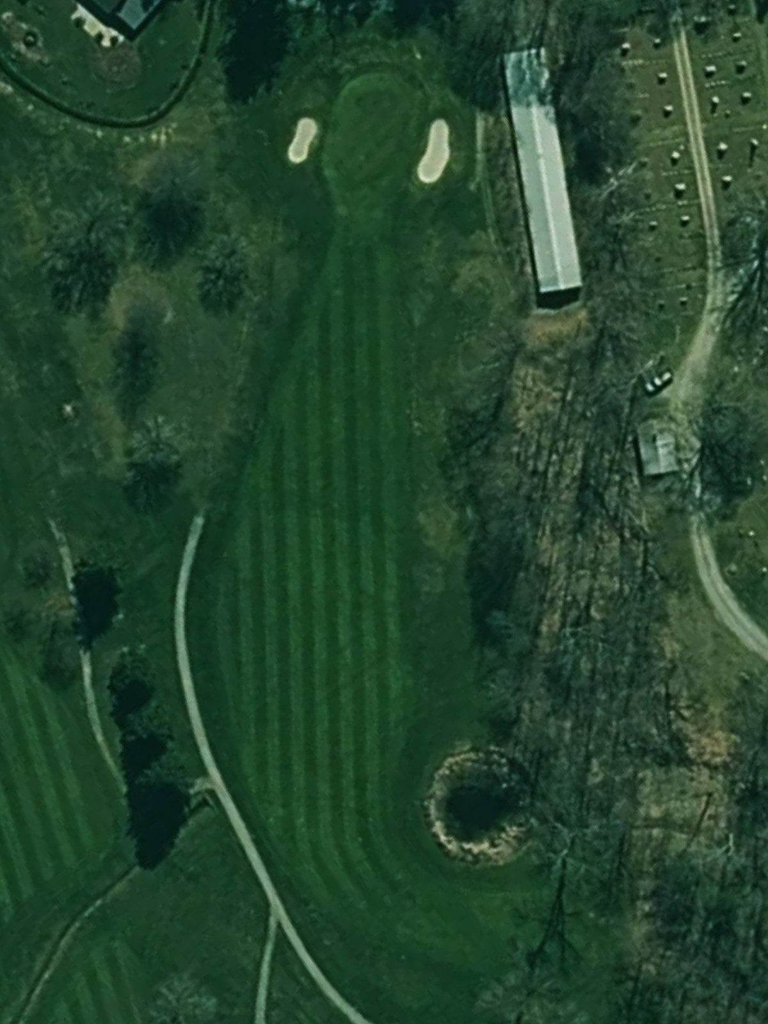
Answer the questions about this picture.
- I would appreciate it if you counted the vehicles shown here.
1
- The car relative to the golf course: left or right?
to the right of it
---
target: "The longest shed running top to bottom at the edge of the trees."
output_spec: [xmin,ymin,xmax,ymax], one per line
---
[504,47,583,294]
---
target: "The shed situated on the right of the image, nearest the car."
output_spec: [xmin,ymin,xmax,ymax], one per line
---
[638,421,679,474]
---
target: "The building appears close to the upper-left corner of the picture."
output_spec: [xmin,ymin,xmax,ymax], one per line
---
[102,0,161,29]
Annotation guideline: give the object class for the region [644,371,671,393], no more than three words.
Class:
car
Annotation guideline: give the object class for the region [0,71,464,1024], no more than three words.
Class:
golf course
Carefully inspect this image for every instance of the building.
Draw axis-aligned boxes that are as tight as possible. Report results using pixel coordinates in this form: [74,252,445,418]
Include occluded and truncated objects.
[504,47,583,294]
[638,421,679,474]
[102,0,161,29]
